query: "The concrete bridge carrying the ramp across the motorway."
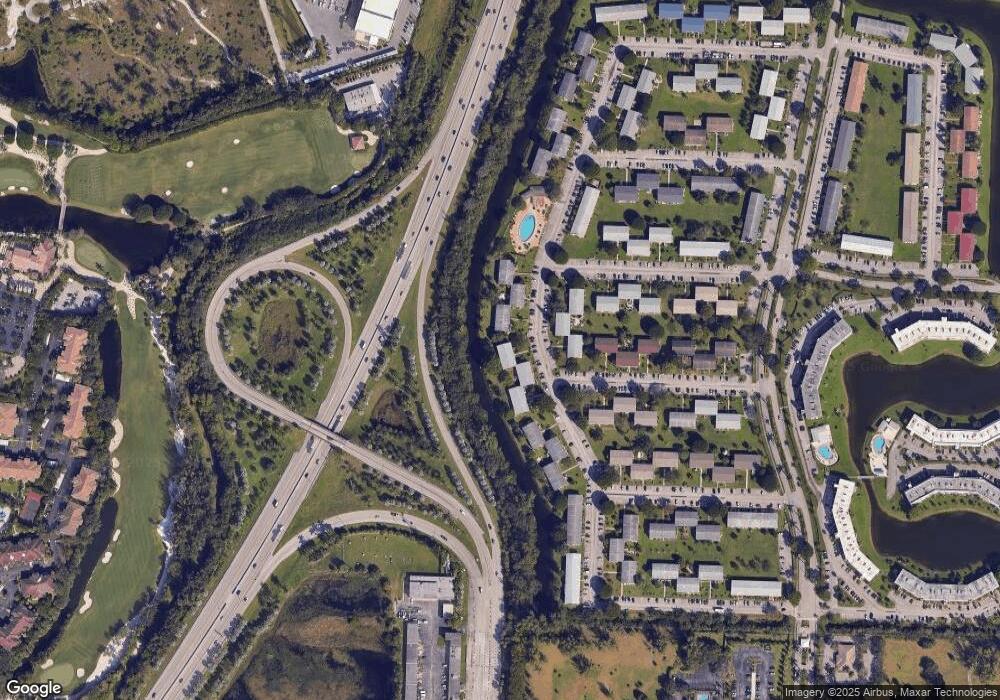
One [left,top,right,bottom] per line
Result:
[275,404,378,465]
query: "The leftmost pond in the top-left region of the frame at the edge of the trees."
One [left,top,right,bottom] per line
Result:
[0,49,52,105]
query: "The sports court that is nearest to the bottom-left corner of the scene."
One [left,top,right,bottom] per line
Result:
[20,491,41,522]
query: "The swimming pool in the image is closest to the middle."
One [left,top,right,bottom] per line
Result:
[510,198,551,252]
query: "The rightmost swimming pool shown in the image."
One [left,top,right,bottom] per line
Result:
[869,429,891,469]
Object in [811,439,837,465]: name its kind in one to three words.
swimming pool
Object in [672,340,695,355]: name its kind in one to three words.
building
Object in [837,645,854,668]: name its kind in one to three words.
house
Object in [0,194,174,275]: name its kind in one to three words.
pond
